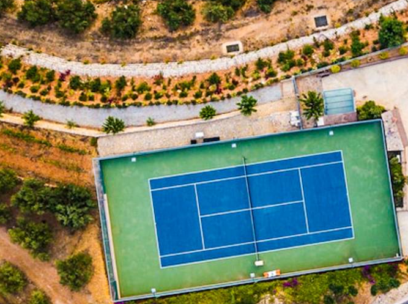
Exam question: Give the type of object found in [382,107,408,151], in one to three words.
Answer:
shed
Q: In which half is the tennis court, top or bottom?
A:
bottom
